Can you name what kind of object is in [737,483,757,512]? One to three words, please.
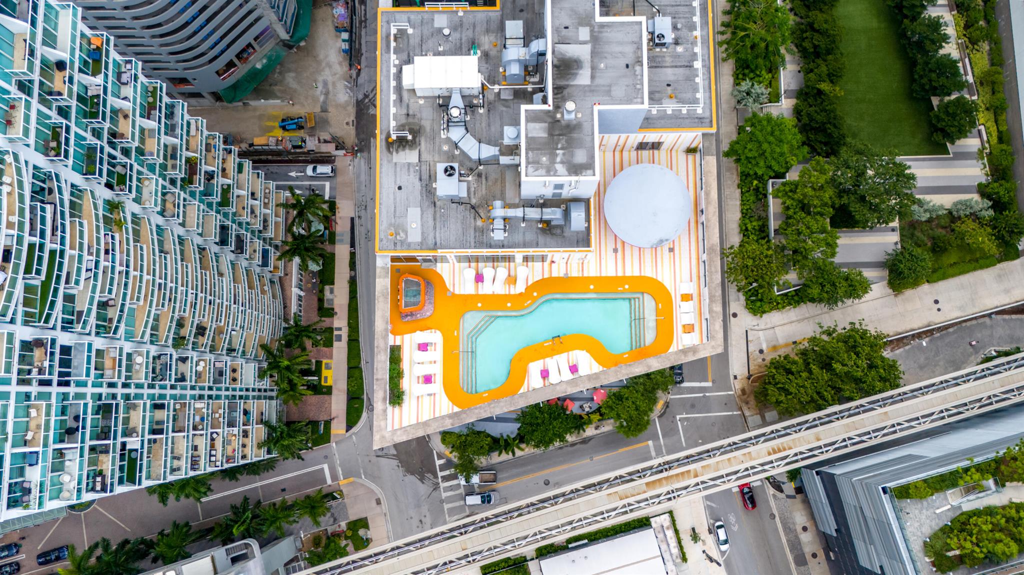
car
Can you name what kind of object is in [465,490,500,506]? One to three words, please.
car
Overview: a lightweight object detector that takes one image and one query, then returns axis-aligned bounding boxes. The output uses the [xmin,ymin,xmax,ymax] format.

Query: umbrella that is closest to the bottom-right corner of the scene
[592,389,607,404]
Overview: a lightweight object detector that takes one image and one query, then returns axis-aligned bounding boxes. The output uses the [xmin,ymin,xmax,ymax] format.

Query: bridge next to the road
[276,351,1024,575]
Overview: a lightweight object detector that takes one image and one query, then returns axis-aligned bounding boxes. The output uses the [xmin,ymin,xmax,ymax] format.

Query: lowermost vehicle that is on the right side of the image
[711,518,730,553]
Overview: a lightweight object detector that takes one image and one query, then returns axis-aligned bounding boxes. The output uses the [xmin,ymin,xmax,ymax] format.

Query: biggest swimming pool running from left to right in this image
[459,292,657,395]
